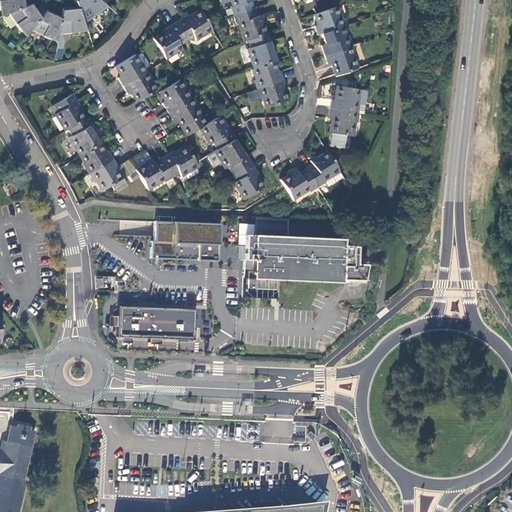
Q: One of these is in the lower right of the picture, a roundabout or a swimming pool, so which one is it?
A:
roundabout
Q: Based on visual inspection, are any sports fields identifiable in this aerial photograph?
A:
No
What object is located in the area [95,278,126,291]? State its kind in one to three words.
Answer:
shed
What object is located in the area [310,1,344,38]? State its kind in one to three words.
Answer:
house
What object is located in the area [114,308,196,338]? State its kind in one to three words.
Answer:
building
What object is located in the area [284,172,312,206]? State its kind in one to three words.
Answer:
house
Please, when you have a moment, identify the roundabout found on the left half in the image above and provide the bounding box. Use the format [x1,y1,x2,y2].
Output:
[44,338,112,402]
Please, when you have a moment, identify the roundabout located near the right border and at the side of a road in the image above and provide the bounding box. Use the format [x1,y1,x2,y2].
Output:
[314,290,512,512]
